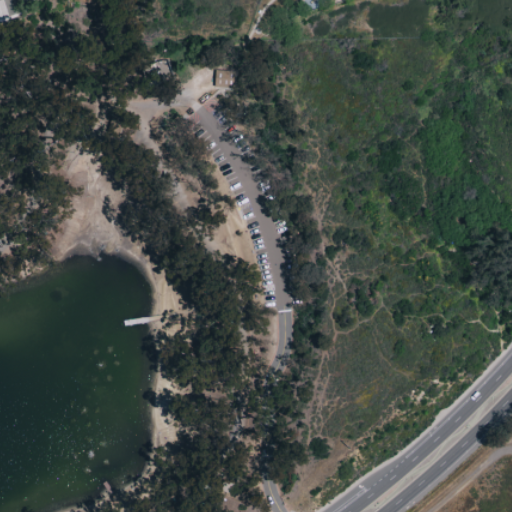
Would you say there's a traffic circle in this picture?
No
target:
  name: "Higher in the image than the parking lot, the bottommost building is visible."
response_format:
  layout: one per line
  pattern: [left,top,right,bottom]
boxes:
[216,69,236,87]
